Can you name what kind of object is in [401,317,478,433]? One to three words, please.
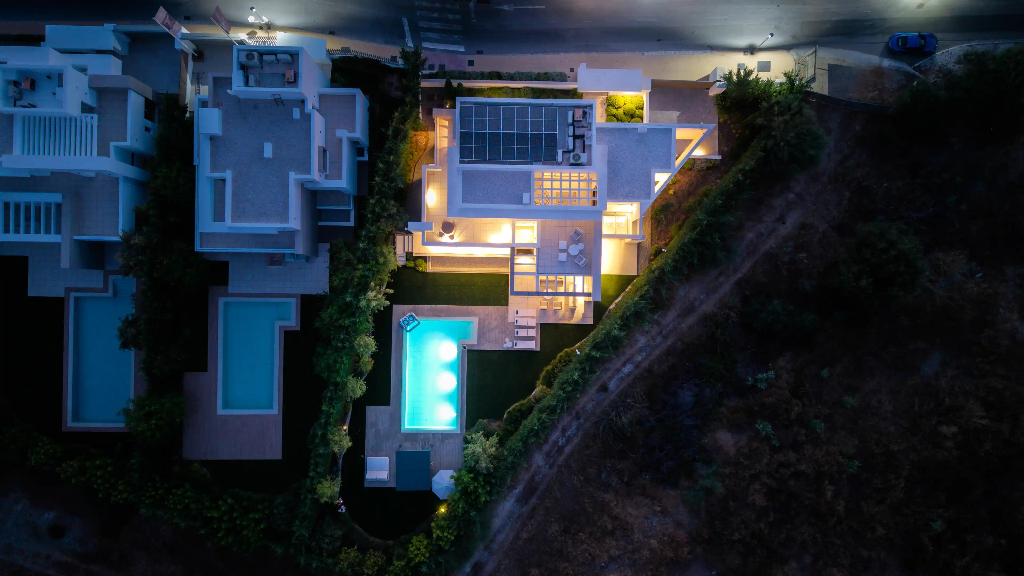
swimming pool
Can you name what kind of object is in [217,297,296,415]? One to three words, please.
swimming pool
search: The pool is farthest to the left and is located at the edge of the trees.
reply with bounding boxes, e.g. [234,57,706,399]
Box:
[67,274,135,427]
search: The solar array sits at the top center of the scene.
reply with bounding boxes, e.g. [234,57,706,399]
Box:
[461,105,557,164]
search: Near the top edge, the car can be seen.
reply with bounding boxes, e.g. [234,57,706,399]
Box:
[891,27,941,53]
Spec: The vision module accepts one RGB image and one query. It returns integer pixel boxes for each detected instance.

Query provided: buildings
[0,46,161,269]
[408,97,715,324]
[195,45,369,257]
